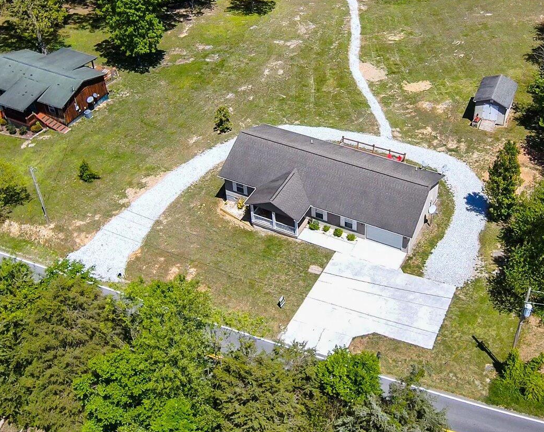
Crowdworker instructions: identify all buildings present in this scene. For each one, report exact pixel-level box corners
[473,77,518,134]
[217,124,444,252]
[0,49,108,132]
